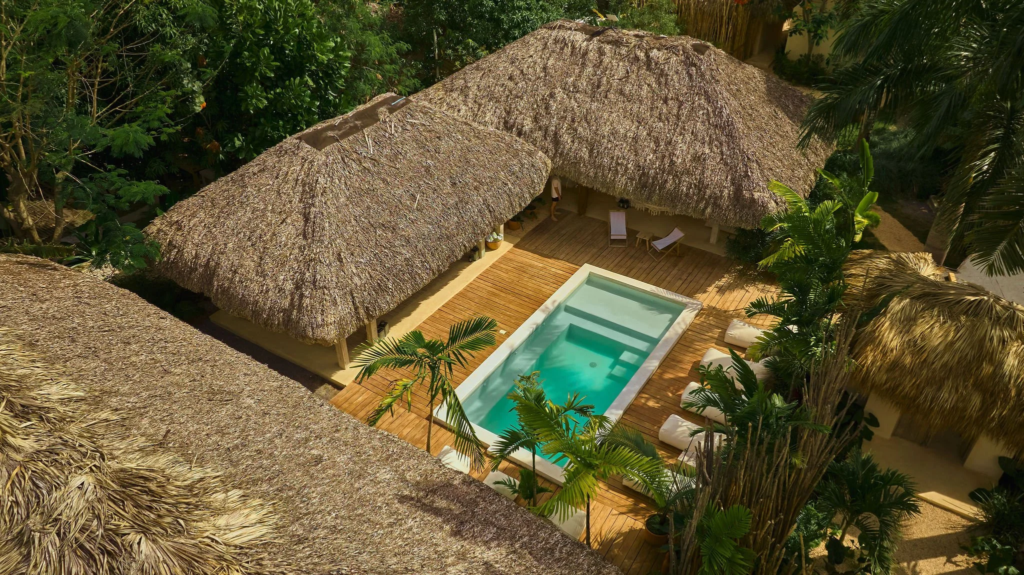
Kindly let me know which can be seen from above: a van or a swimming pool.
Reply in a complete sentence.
There is a swimming pool in the scene.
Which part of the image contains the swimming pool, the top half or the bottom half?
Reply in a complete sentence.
The bottom half of the photo is where the swimming pool is.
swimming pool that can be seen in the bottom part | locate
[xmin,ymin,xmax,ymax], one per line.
[434,263,702,491]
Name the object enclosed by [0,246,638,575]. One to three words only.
house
